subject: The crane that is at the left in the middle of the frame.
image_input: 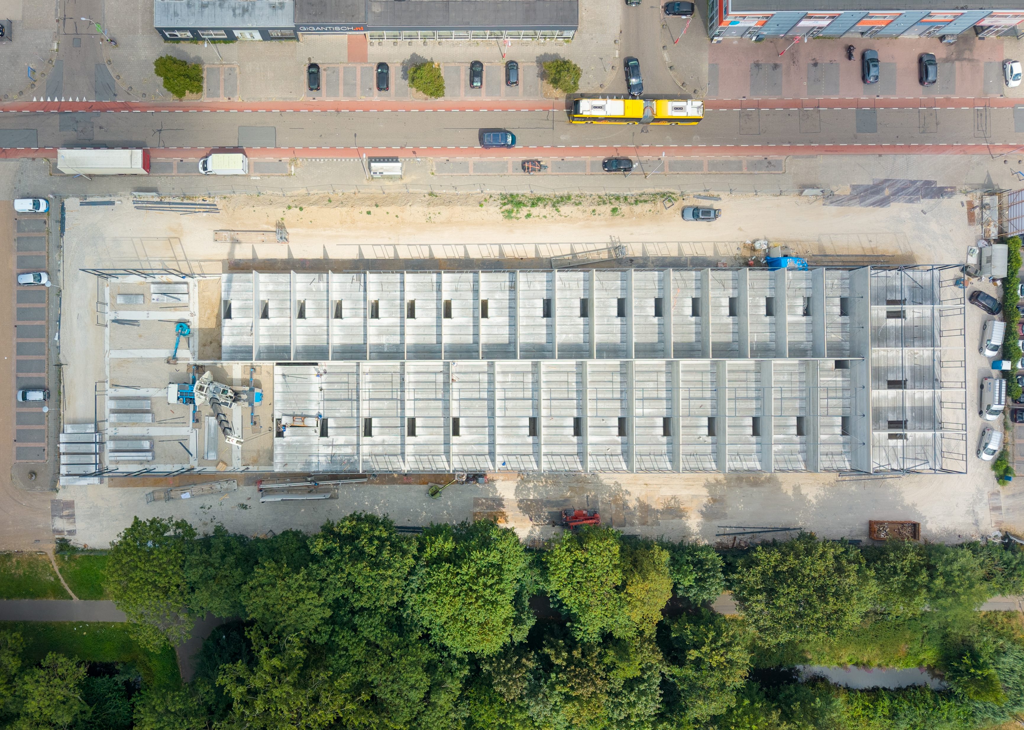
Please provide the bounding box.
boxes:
[168,365,301,446]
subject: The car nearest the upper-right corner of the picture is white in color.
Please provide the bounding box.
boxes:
[1002,60,1023,88]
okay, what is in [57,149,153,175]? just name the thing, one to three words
trailer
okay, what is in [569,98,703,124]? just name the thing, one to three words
bus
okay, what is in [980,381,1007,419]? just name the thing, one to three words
vehicle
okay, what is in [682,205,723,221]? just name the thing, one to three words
car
